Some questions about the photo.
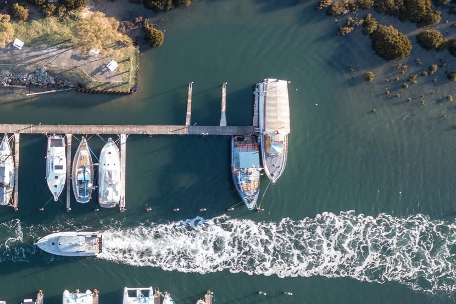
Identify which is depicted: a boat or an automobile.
boat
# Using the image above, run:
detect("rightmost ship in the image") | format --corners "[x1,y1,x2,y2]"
[257,78,293,181]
